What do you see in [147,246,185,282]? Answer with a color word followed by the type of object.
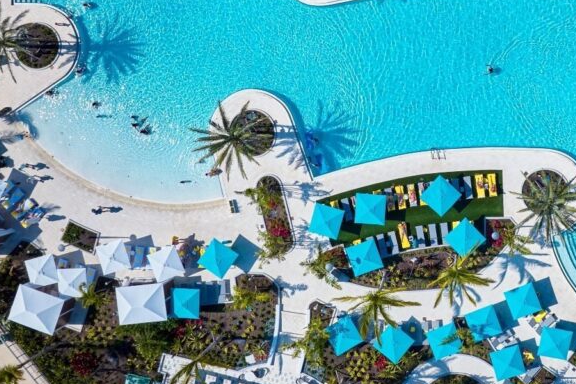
white umbrella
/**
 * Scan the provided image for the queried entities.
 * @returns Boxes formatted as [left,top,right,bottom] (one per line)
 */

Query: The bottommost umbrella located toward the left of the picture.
[172,289,201,317]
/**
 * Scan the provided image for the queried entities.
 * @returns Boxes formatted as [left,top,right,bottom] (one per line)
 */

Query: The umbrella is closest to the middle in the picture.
[308,203,344,239]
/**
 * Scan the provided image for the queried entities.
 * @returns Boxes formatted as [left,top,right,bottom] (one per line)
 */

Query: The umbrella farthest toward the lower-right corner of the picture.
[537,326,573,361]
